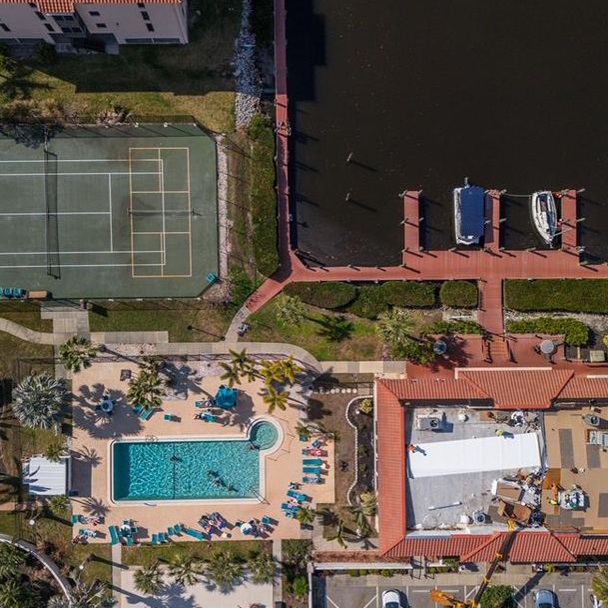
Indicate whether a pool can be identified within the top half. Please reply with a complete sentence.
No, within the top half there is no pool.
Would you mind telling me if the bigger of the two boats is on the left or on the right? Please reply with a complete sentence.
The bigger of the two boats sits on the right side.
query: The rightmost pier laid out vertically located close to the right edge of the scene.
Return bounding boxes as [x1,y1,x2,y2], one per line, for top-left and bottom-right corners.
[555,188,585,251]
